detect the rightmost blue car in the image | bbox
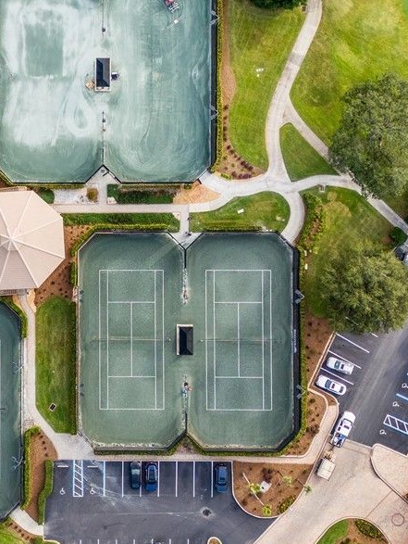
[216,464,229,493]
